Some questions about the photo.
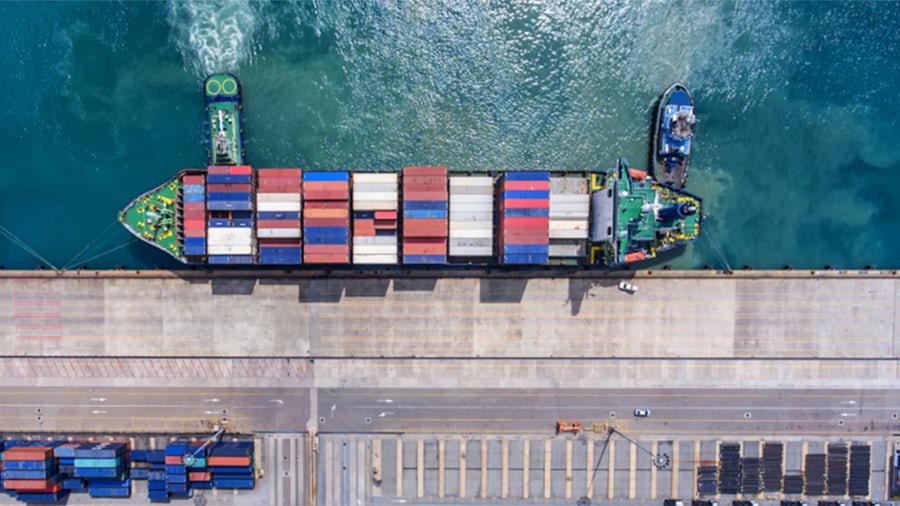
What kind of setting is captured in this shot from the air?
port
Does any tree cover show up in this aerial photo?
No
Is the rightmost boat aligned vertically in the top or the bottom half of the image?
top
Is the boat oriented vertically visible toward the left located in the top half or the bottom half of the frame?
top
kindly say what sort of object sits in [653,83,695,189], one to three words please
boat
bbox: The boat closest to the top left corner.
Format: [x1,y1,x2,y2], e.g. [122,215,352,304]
[204,74,242,166]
